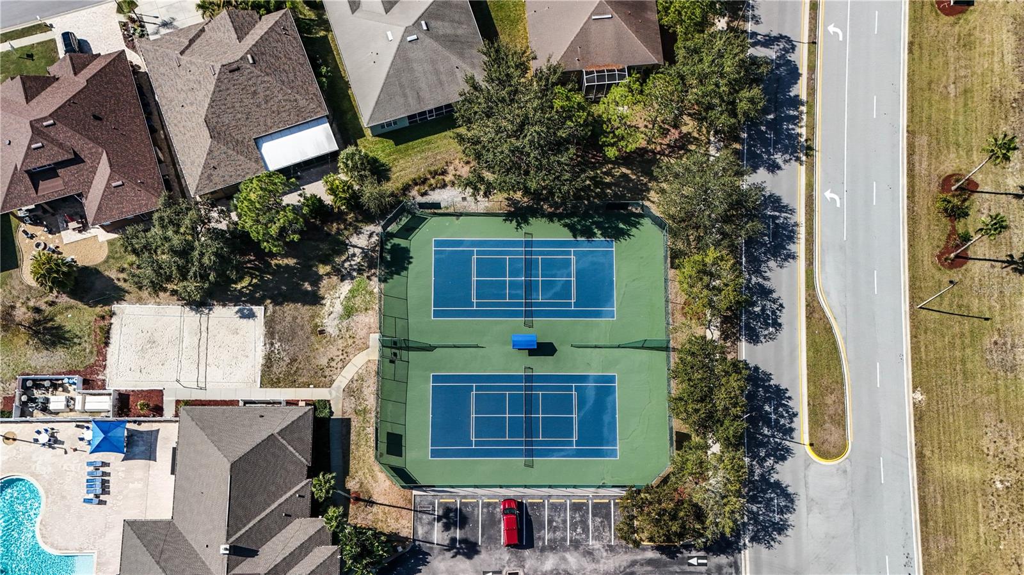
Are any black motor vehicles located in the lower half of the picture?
No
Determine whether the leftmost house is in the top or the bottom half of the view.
top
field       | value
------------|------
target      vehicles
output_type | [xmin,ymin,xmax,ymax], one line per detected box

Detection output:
[61,28,79,54]
[500,499,519,548]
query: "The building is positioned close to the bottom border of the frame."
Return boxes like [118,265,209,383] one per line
[118,407,342,575]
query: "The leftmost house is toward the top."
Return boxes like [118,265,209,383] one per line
[0,49,170,229]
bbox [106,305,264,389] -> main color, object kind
white sports court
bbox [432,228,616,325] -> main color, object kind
blue tennis court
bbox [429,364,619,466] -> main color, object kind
blue tennis court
